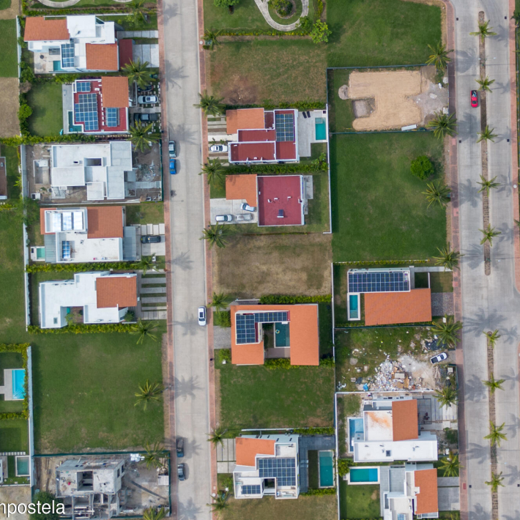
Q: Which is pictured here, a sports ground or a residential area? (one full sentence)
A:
This image shows a residential area.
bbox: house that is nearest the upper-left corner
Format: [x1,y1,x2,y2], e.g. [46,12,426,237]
[24,15,135,73]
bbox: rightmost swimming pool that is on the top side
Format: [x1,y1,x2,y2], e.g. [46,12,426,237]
[314,117,326,141]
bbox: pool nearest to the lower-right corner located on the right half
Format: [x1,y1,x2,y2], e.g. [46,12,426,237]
[348,467,379,484]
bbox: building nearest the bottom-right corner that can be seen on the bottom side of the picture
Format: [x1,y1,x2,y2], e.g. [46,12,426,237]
[384,460,439,520]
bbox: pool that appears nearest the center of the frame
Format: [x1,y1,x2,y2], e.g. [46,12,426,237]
[275,323,291,348]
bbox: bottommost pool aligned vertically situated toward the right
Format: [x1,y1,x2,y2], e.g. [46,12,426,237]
[318,450,334,488]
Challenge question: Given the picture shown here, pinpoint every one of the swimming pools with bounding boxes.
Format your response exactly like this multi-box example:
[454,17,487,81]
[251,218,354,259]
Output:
[348,467,379,484]
[68,110,82,132]
[53,60,65,71]
[10,369,23,401]
[318,450,334,488]
[314,117,326,141]
[34,247,45,261]
[348,418,364,454]
[348,293,360,321]
[275,323,291,348]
